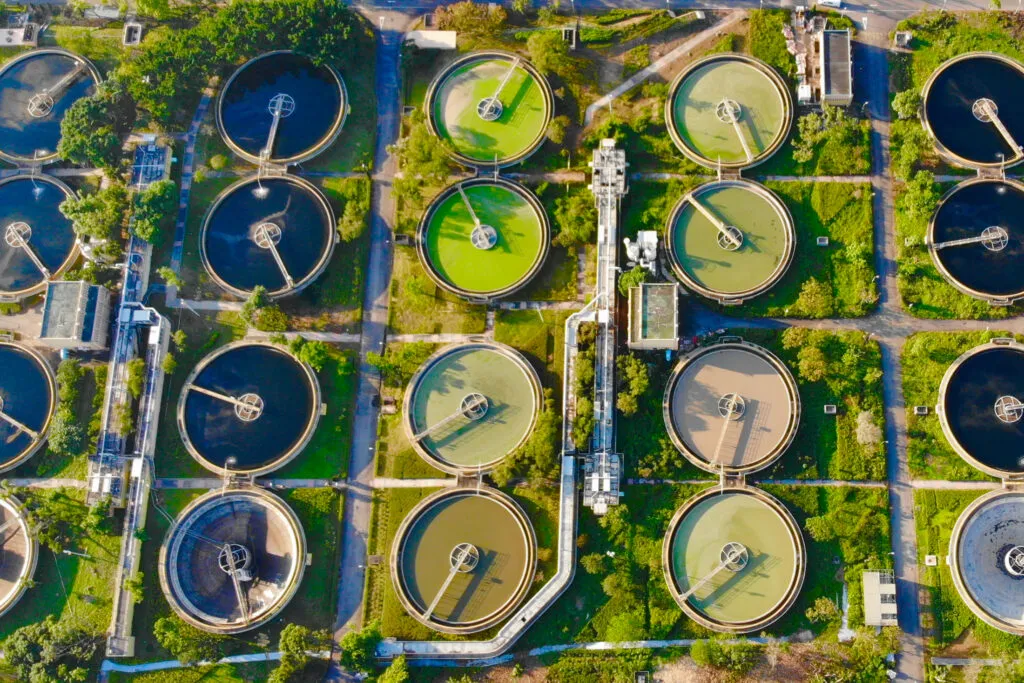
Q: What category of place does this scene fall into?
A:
industrial area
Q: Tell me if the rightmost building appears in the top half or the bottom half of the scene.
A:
bottom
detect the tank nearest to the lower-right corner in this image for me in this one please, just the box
[942,489,1024,635]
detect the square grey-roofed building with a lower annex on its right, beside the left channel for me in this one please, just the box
[40,281,113,349]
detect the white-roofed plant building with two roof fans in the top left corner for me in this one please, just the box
[0,26,46,55]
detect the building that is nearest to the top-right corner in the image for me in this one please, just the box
[806,29,854,105]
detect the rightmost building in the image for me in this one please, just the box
[860,570,898,626]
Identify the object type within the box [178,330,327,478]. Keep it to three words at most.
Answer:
storage tank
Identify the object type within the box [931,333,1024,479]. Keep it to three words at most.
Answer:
storage tank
